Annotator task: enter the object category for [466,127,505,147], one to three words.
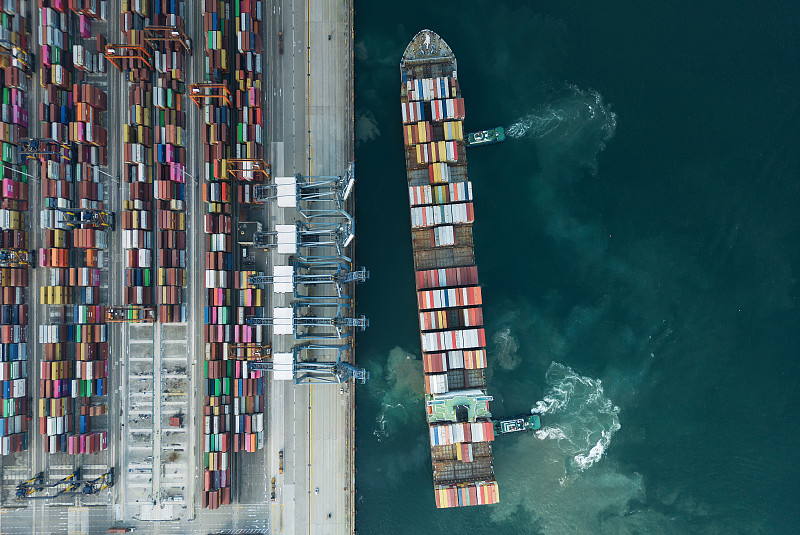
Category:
boat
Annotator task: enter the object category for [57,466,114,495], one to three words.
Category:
container crane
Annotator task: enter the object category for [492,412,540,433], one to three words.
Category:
boat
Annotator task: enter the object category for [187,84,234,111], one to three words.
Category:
container crane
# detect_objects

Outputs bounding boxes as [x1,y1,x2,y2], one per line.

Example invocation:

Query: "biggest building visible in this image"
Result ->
[238,222,263,244]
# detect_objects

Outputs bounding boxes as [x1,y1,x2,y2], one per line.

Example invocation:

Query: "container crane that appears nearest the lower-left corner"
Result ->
[16,471,78,500]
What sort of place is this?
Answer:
port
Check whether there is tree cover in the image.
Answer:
No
